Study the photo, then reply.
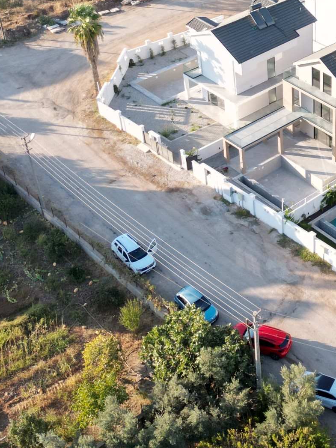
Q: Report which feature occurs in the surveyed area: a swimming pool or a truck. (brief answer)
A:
swimming pool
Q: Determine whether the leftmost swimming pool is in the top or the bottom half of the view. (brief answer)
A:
top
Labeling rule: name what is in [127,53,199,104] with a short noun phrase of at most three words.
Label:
swimming pool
